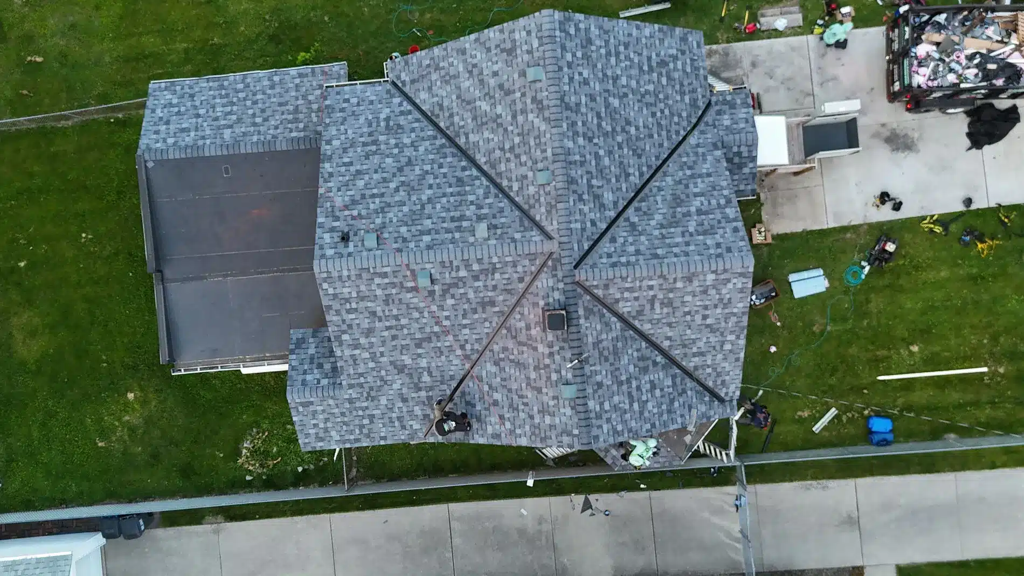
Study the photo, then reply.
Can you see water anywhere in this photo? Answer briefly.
No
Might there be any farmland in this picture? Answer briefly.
No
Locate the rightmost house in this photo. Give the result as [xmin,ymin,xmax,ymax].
[138,7,758,472]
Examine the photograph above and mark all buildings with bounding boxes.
[0,531,117,576]
[138,7,758,472]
